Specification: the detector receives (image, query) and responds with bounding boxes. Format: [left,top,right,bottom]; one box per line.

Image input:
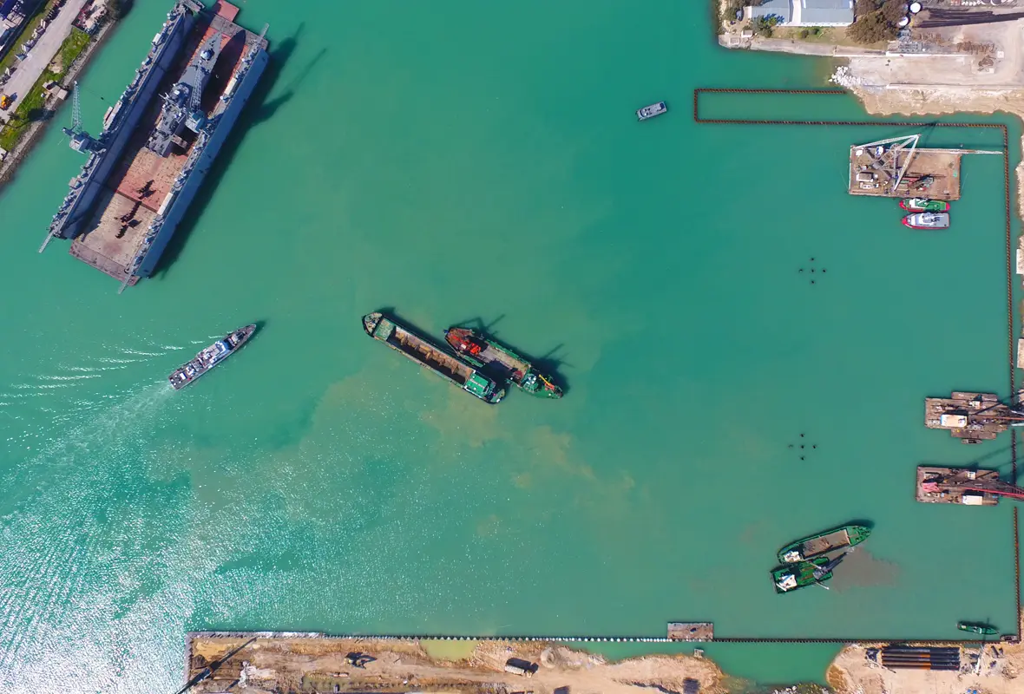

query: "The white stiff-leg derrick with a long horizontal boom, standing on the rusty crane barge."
[854,134,1003,190]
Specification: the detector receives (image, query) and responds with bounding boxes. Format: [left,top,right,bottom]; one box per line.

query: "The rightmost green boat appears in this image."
[956,621,999,635]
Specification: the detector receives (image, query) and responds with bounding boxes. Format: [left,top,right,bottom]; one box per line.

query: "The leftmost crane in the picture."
[68,81,104,162]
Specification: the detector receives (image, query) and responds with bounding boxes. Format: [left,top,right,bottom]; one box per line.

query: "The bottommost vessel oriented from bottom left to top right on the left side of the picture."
[169,325,259,390]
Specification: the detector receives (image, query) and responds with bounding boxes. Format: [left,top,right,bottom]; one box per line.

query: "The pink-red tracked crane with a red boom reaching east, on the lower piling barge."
[921,470,1024,501]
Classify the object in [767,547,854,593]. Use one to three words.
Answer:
ship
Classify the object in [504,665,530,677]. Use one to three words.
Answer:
vehicle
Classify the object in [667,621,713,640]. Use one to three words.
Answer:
pier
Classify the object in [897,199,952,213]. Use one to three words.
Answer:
boat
